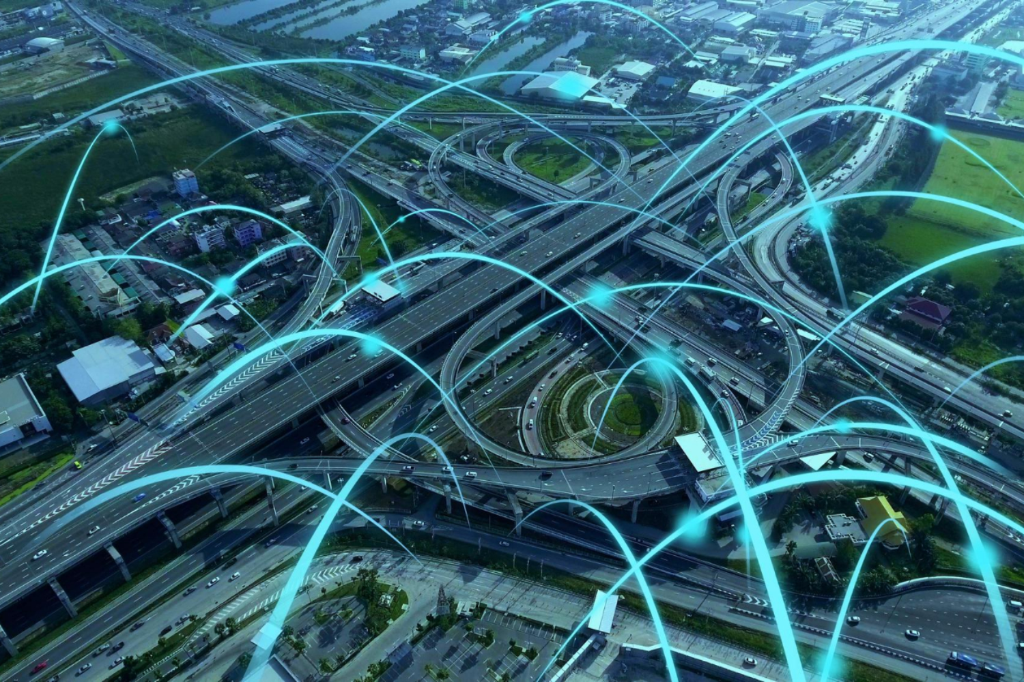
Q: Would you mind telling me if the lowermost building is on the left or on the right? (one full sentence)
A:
The lowermost building is on the left side of the image.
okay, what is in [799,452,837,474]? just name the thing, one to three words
shed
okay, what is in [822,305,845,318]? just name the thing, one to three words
vehicle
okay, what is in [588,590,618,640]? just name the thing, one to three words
toll station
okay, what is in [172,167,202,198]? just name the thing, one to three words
building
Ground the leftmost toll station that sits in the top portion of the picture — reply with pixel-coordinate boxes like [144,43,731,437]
[258,124,286,141]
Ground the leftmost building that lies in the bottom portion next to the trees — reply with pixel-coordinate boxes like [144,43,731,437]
[0,371,52,468]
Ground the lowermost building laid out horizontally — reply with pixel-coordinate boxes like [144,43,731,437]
[233,654,303,682]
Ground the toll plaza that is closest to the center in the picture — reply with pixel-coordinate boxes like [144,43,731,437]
[362,281,402,309]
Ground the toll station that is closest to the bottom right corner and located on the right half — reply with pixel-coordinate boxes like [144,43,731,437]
[674,432,724,479]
